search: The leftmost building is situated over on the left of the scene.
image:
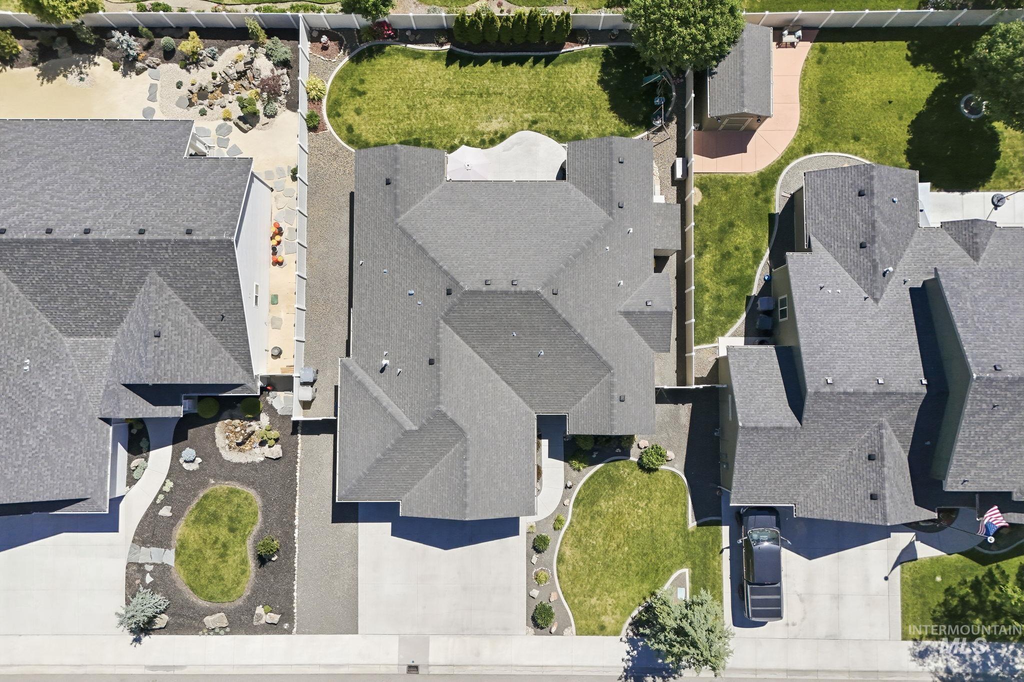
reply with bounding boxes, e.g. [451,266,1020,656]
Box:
[0,117,271,516]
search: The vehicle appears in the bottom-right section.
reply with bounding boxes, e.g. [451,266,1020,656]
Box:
[739,506,797,622]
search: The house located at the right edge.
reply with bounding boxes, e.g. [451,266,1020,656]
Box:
[717,163,1024,526]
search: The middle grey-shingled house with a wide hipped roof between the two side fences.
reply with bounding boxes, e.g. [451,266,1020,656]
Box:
[336,137,681,521]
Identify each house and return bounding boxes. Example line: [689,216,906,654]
[717,163,1024,526]
[336,137,681,521]
[0,117,271,516]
